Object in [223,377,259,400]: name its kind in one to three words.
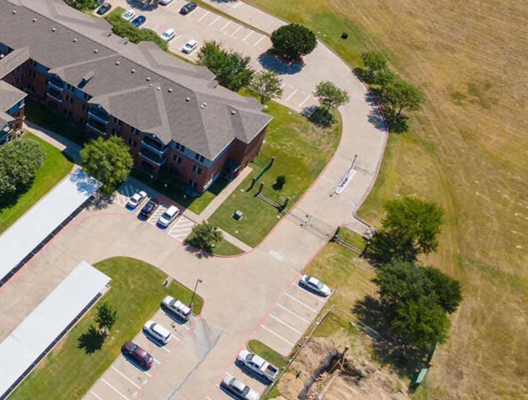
car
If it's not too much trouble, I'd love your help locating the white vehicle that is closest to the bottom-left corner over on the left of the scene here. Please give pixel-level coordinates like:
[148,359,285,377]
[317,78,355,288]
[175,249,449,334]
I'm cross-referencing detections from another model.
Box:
[141,320,173,347]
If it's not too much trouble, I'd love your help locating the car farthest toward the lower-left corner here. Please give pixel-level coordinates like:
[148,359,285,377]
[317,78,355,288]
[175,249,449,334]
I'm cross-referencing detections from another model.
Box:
[121,344,154,372]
